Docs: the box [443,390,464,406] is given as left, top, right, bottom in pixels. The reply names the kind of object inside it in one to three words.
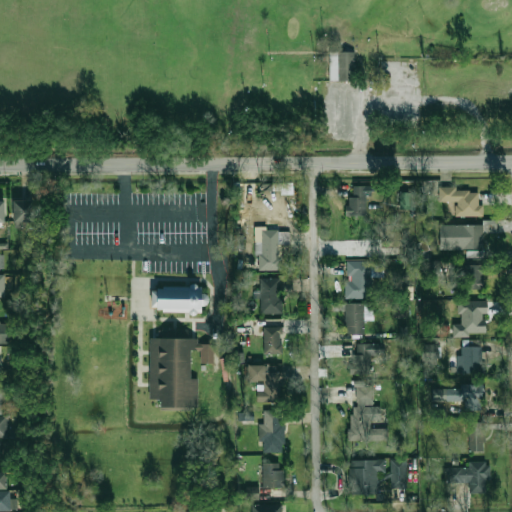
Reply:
house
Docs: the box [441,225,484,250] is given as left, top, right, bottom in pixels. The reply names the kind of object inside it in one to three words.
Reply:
house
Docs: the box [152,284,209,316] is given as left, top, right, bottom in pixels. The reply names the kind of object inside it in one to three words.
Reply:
building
